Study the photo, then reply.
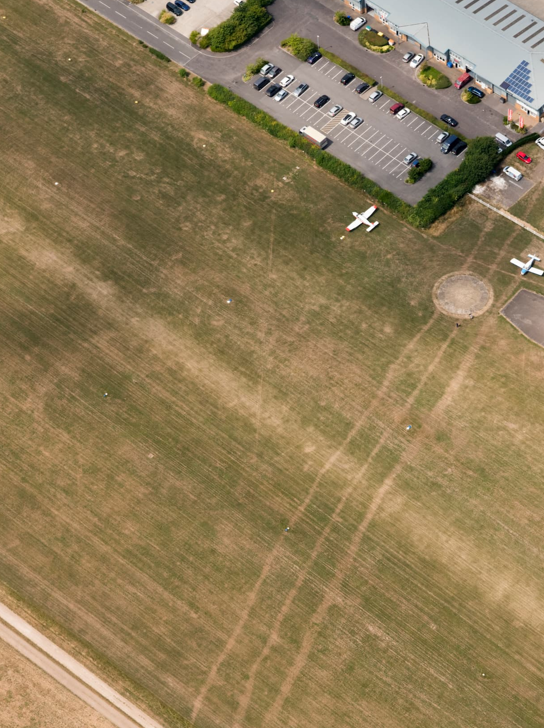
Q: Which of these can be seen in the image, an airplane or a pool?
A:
airplane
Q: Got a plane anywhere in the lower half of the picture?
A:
No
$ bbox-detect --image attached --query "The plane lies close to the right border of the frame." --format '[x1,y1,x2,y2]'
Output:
[508,252,544,277]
